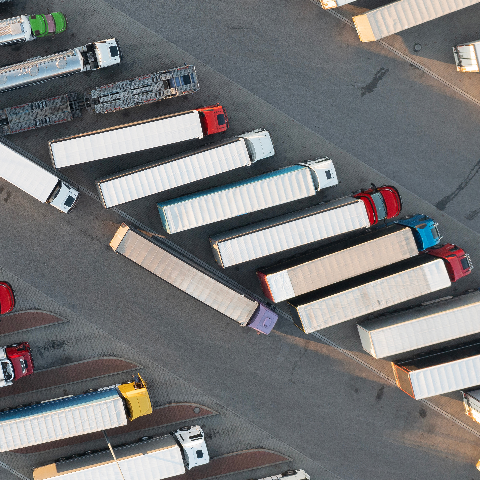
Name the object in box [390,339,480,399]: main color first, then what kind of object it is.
white truck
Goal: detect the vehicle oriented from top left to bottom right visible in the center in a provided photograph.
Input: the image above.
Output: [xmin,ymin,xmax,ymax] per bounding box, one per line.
[110,222,279,339]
